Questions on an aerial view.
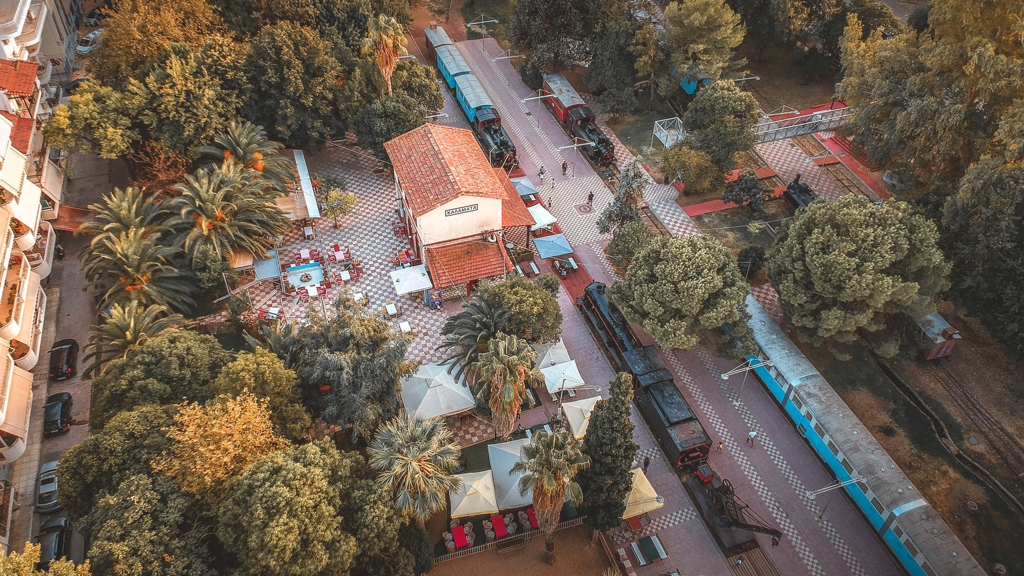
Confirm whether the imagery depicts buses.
Yes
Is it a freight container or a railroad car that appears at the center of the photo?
railroad car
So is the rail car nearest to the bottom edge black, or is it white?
black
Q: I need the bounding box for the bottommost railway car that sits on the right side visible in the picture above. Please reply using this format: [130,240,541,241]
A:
[575,277,667,391]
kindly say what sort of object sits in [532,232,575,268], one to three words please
umbrella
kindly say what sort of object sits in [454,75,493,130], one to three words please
rail car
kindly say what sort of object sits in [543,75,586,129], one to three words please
rail car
